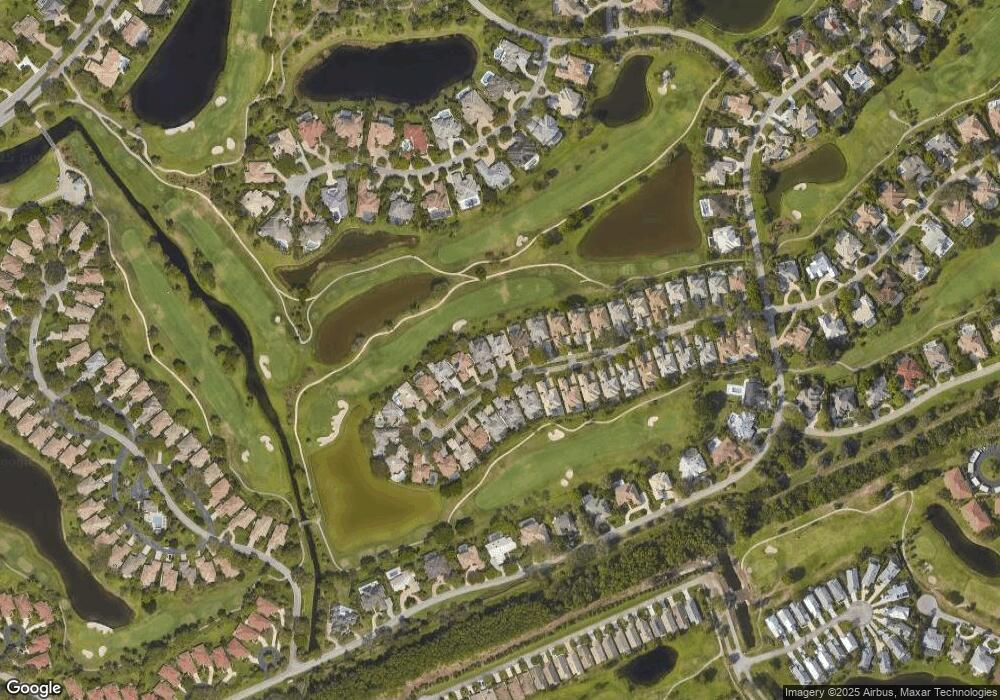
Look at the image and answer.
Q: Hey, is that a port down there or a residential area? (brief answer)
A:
residential area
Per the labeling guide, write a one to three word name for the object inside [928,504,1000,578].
pond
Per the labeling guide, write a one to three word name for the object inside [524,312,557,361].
house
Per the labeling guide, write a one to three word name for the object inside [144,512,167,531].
swimming pool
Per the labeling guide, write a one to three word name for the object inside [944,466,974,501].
building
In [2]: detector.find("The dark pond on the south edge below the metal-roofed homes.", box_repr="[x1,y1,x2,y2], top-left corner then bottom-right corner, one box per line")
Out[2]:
[836,672,976,700]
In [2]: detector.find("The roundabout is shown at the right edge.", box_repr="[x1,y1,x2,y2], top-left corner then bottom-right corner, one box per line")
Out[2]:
[974,448,1000,488]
